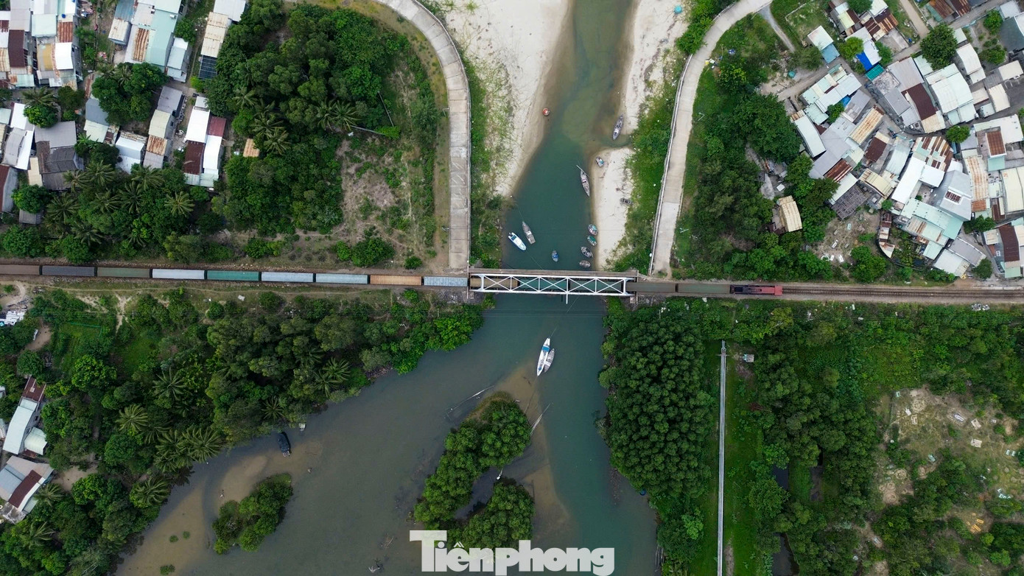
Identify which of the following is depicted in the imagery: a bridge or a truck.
bridge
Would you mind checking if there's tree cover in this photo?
Yes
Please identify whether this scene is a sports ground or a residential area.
residential area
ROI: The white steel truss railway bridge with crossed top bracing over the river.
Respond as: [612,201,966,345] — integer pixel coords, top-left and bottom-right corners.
[460,266,646,304]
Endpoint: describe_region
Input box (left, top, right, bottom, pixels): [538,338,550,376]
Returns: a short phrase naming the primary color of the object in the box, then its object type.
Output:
white boat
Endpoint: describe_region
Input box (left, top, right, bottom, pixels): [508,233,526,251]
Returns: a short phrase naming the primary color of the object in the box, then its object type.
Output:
white boat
